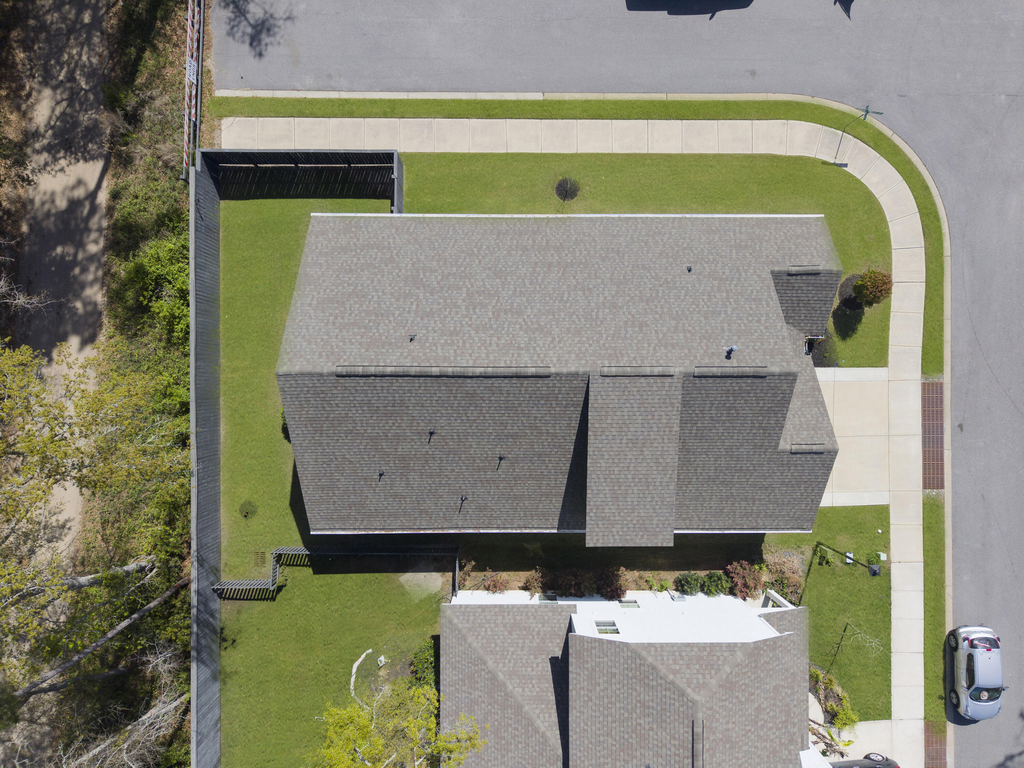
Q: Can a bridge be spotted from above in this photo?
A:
No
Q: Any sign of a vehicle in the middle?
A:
No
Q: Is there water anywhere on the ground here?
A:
No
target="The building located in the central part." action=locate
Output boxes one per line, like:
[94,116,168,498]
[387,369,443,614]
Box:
[276,211,843,547]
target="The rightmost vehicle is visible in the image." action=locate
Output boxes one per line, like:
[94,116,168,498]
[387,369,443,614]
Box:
[948,624,1009,721]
